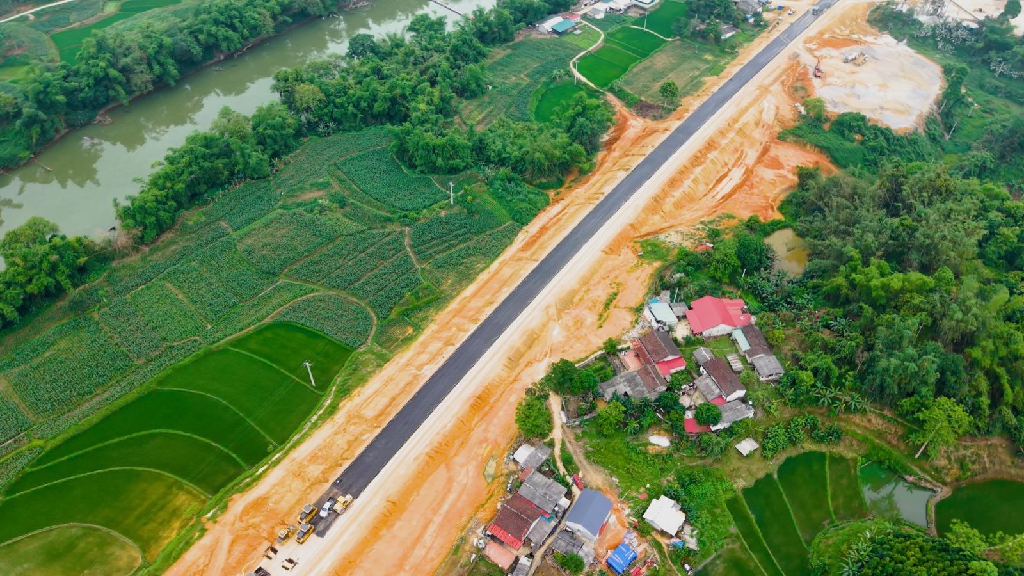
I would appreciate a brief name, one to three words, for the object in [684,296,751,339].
house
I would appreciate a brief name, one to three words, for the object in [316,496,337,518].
truck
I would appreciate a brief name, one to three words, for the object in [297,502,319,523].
work vehicle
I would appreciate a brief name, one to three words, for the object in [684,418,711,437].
shed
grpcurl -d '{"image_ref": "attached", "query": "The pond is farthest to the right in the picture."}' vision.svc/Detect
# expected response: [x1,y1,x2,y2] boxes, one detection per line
[937,482,1024,546]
